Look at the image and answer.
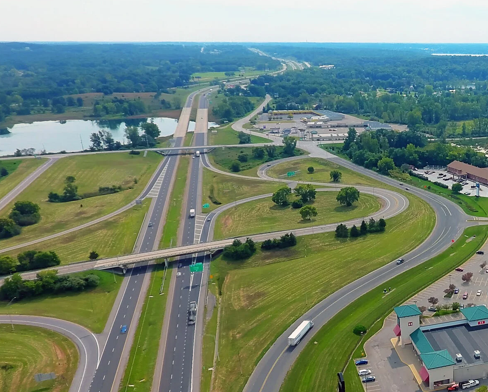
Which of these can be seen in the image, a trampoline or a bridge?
bridge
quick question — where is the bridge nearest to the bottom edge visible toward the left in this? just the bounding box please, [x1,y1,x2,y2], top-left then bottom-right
[94,235,238,277]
